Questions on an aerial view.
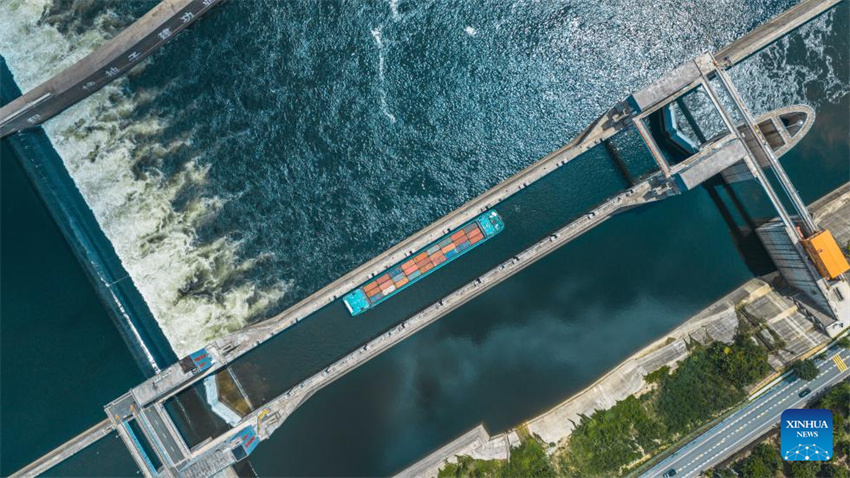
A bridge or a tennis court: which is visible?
bridge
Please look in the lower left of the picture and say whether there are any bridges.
Yes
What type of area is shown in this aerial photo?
port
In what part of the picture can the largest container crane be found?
right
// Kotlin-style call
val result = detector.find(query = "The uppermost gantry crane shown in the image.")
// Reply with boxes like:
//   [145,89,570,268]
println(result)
[794,226,849,276]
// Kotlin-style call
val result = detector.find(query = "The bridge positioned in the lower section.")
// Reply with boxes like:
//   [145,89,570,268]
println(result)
[141,402,190,470]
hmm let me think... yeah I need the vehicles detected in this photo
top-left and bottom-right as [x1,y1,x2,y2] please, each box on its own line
[665,469,676,478]
[798,390,809,399]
